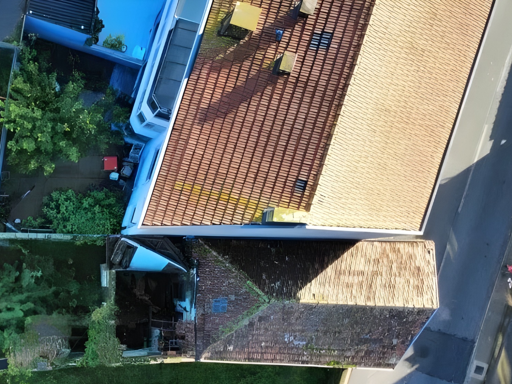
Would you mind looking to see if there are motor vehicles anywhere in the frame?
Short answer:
No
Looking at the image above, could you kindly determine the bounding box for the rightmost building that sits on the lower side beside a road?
[180,231,441,371]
